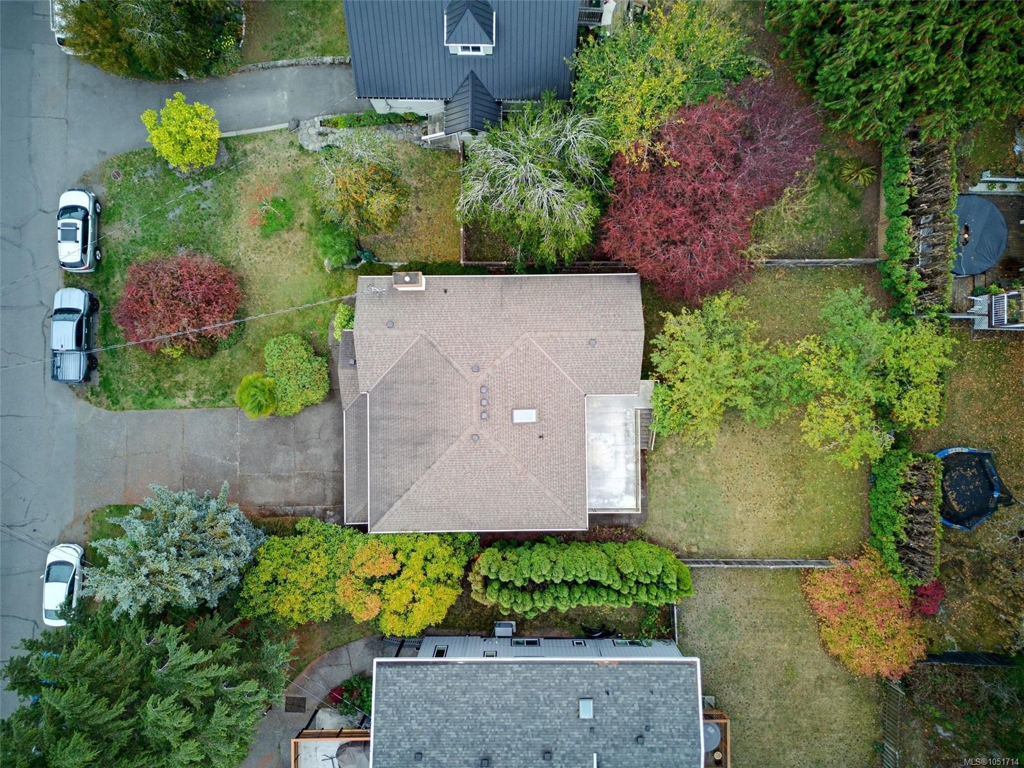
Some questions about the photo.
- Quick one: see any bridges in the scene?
No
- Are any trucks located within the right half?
No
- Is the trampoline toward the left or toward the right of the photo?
right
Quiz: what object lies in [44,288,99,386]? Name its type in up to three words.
truck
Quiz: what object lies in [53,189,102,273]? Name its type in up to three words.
car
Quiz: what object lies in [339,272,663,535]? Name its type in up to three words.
house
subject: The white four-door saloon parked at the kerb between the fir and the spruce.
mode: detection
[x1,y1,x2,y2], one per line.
[42,543,90,629]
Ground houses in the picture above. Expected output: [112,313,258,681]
[339,272,663,535]
[367,635,707,768]
[344,0,576,162]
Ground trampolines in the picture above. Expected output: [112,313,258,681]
[927,447,1024,531]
